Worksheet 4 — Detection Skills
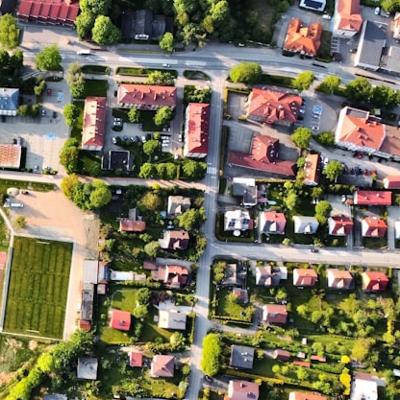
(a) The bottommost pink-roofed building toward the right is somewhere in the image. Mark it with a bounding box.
[232,379,259,400]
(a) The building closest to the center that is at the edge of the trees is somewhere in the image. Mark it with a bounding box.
[165,193,191,215]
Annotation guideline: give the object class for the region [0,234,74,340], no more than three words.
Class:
sports field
